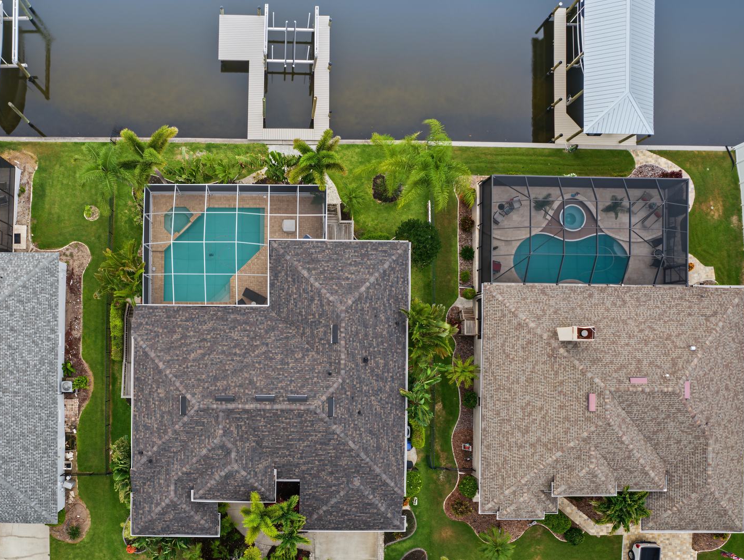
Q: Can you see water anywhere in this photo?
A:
Yes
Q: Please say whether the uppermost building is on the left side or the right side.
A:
right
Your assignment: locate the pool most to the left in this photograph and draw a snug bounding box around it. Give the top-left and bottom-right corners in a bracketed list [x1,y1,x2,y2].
[162,205,194,236]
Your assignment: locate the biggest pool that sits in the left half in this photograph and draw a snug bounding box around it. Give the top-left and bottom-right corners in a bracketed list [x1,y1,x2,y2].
[162,205,266,304]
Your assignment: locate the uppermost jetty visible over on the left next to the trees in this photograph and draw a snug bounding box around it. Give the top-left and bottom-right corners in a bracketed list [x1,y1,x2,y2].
[219,14,329,140]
